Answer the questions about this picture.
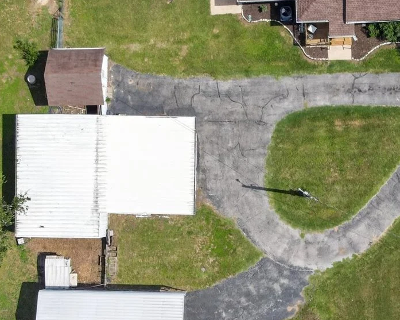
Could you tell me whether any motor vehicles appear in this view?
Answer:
No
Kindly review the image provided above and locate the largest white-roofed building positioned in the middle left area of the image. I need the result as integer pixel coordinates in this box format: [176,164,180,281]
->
[15,114,198,238]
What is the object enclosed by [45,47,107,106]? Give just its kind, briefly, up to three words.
shed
